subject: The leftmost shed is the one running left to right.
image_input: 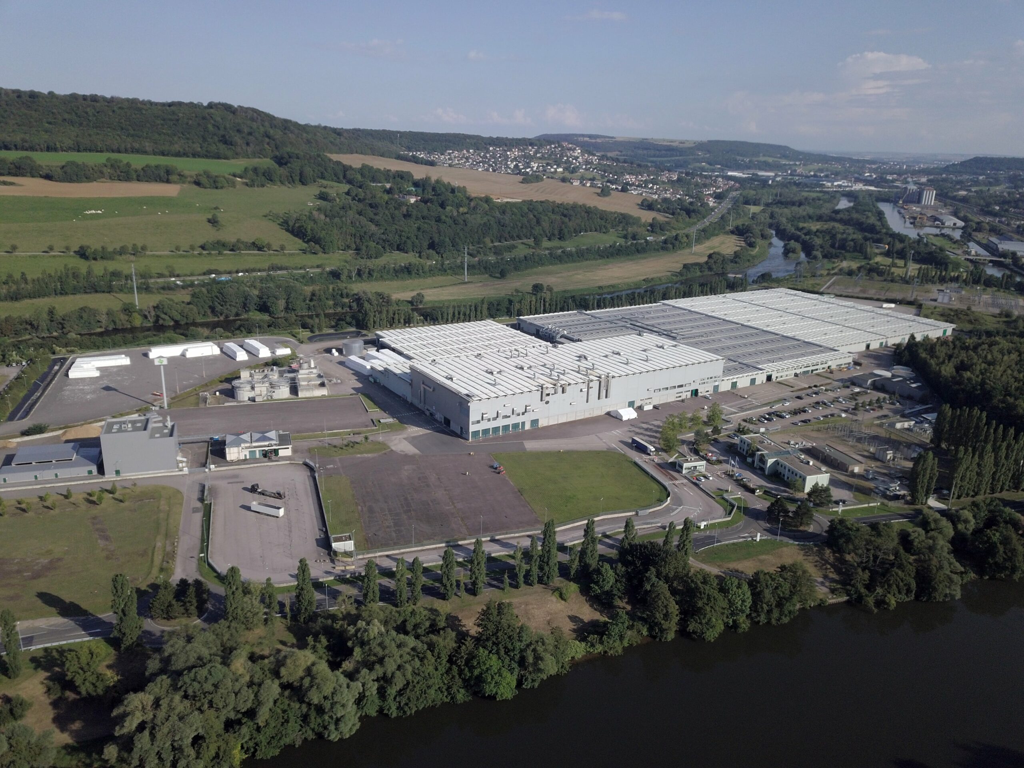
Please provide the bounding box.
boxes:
[0,446,102,483]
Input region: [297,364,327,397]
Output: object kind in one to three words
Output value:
building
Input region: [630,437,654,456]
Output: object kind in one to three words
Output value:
vehicle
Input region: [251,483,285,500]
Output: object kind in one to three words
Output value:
vehicle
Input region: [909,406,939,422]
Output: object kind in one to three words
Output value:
shed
